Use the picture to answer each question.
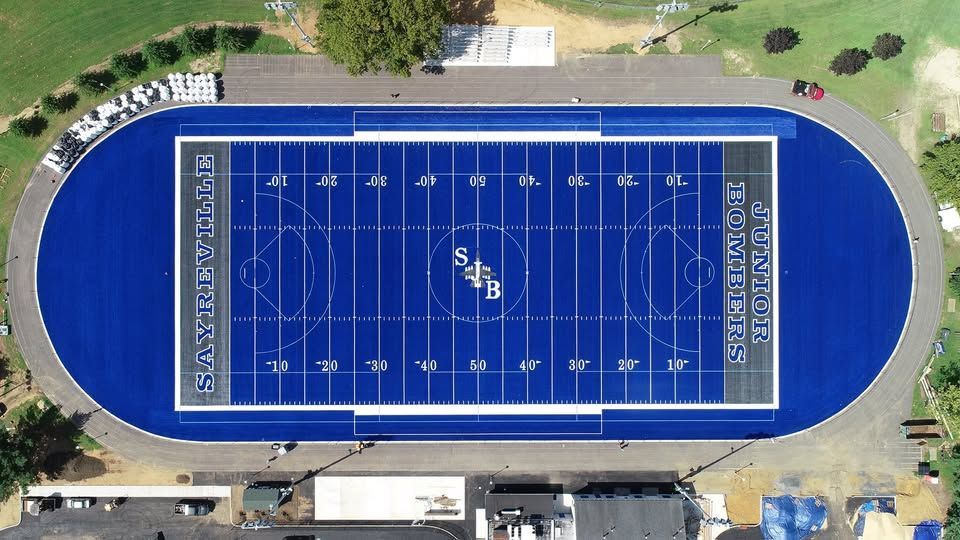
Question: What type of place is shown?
sports ground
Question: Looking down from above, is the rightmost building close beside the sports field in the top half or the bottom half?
bottom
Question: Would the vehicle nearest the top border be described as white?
No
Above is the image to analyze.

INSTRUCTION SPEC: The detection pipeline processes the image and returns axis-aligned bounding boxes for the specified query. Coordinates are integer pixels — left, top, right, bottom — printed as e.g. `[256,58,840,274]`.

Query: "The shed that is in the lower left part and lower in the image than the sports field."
[242,484,282,512]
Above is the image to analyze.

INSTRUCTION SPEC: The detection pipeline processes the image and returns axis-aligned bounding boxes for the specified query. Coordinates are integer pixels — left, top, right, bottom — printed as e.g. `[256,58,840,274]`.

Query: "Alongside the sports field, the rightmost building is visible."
[566,488,684,540]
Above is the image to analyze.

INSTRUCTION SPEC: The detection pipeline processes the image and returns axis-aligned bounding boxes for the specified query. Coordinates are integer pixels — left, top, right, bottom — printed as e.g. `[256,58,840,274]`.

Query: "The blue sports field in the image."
[175,112,779,433]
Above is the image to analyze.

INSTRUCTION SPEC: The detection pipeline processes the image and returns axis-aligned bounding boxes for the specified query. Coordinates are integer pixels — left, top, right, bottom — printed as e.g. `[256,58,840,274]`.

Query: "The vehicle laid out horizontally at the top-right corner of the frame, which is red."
[791,79,828,98]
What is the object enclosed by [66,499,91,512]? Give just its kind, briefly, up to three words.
vehicle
